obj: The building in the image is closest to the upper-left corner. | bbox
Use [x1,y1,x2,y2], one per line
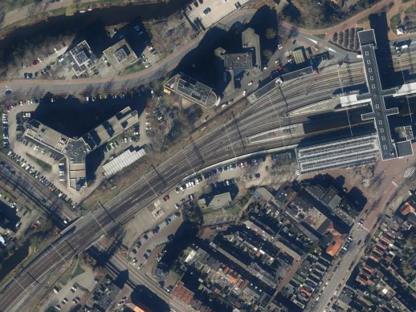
[70,39,97,76]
